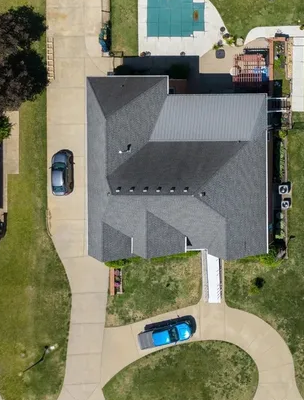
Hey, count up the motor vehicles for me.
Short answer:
two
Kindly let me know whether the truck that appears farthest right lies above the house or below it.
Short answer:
below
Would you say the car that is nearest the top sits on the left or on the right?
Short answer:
left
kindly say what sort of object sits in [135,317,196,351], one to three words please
truck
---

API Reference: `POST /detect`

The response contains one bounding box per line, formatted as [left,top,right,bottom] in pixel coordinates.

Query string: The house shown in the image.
[86,76,285,262]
